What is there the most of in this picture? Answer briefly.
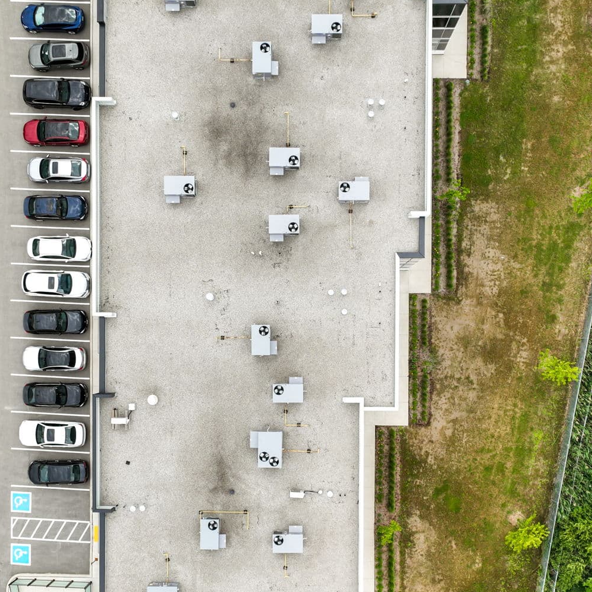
buildings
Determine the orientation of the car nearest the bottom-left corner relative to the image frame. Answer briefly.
horizontally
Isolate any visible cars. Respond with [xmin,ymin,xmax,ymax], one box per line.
[21,342,87,374]
[18,418,87,451]
[21,306,89,338]
[26,232,90,264]
[21,190,89,222]
[20,0,86,34]
[23,114,89,147]
[19,267,90,300]
[20,379,88,410]
[26,152,90,184]
[27,37,90,73]
[27,458,89,490]
[19,74,92,109]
